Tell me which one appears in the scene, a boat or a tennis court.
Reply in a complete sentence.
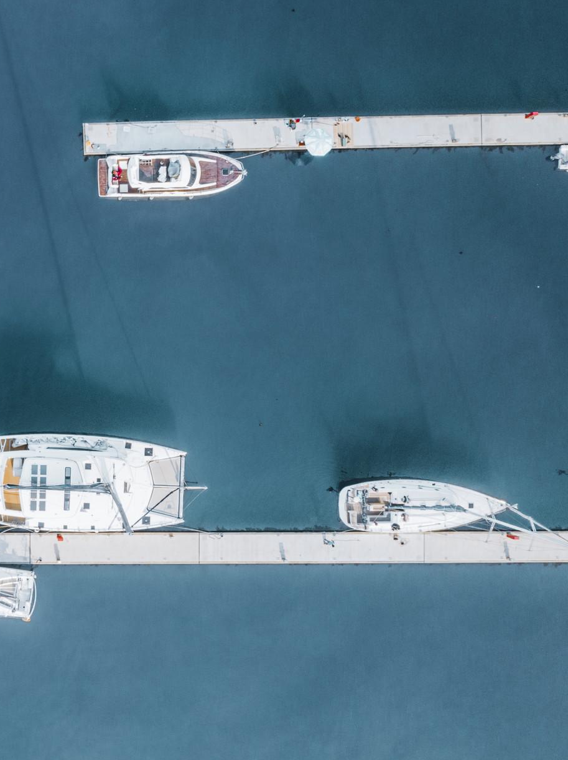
Looking from above, you can make out a boat.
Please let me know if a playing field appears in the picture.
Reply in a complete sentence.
No, no playing field is visible in the scene.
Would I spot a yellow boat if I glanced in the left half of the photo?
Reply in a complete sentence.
No, there is no yellow boat in the left half of the photo.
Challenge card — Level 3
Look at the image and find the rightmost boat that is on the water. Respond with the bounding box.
[547,145,568,170]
